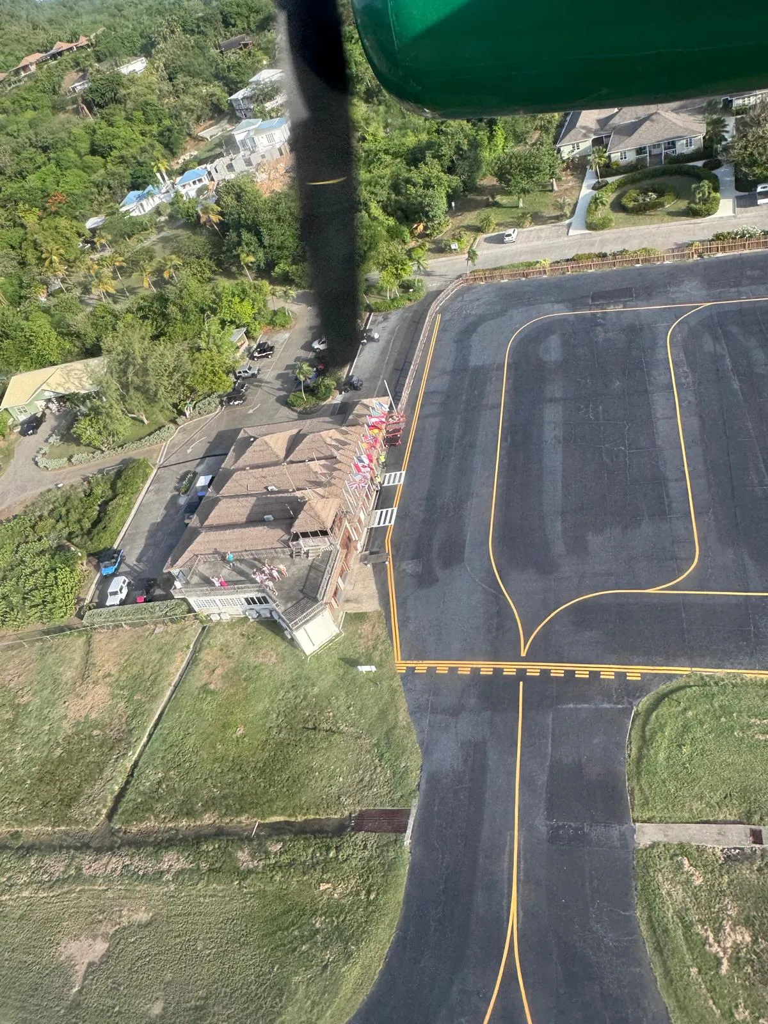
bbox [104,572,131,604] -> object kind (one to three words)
car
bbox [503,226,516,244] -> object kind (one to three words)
vehicle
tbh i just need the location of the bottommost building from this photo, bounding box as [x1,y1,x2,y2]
[166,391,391,658]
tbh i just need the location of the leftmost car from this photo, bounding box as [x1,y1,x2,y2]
[20,415,39,434]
